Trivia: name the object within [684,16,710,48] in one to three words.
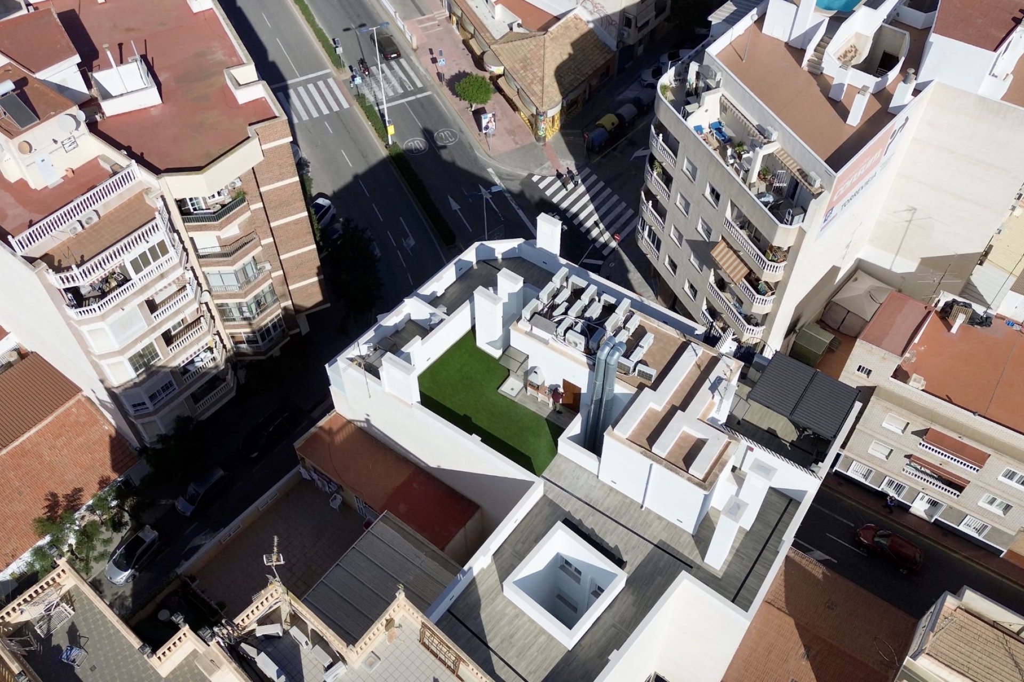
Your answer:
car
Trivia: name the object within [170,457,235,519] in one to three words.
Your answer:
car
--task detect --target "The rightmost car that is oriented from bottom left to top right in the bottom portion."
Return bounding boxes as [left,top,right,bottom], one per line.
[237,399,300,458]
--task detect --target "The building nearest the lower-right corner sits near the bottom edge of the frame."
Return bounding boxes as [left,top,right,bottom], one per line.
[885,586,1024,682]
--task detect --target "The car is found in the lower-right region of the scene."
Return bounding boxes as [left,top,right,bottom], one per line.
[854,519,938,577]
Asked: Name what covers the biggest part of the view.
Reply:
buildings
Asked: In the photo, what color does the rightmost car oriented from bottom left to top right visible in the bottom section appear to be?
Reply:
black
